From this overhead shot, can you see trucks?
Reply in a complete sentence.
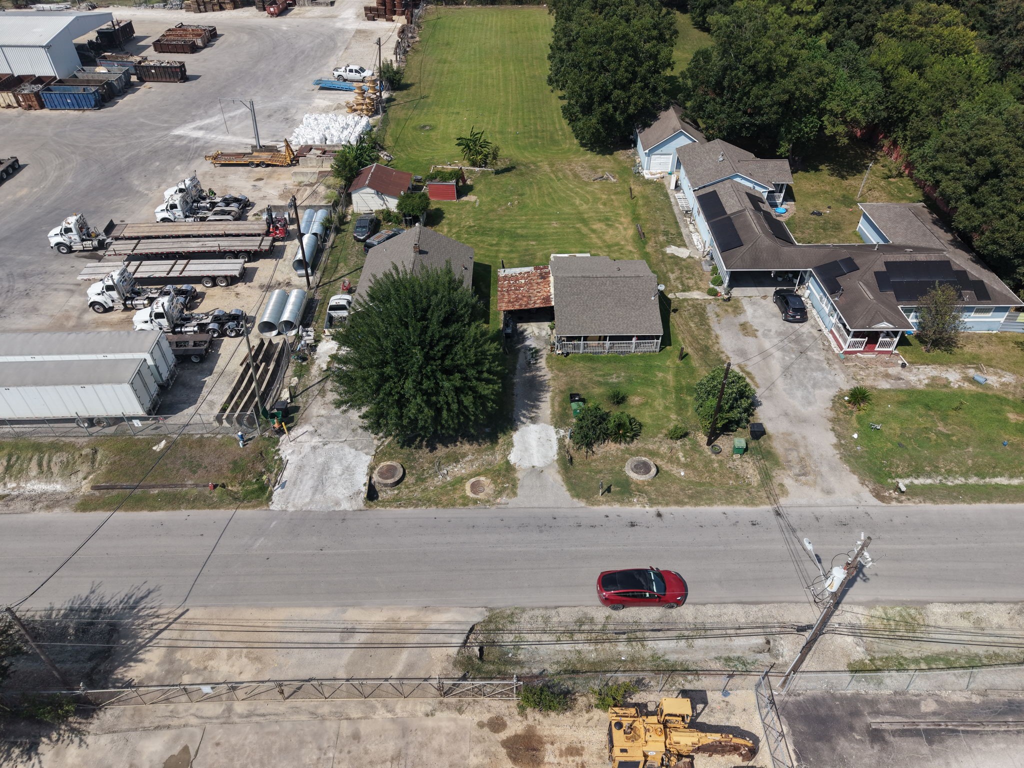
Yes, there's a truck down there.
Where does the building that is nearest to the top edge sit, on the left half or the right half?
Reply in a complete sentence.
You can find the building that is nearest to the top edge on the left side of the picture.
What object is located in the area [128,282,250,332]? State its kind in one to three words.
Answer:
truck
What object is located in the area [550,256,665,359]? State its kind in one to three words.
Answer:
house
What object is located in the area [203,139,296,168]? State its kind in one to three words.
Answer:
trailer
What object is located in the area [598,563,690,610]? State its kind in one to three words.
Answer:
car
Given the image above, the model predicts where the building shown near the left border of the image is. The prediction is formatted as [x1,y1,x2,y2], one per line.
[0,11,115,77]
